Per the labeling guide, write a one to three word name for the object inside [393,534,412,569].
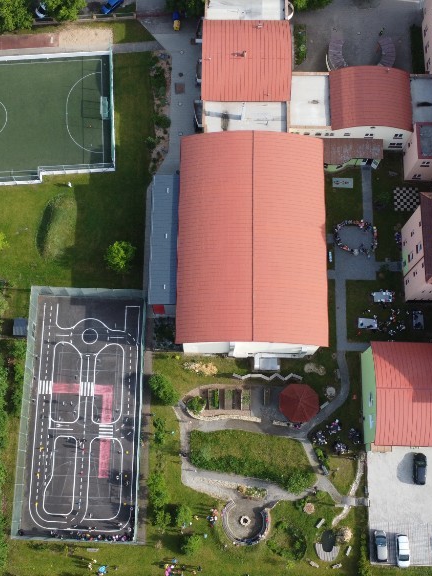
car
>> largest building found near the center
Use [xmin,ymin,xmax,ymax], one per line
[175,128,329,374]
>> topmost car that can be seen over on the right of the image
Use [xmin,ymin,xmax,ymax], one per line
[410,453,428,485]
